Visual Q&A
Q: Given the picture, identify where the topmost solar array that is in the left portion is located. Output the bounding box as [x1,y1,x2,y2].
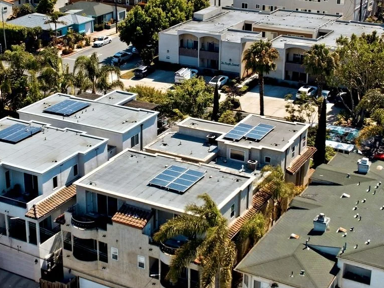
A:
[42,100,90,117]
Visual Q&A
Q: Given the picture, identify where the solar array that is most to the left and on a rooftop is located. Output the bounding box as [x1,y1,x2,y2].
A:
[0,123,41,146]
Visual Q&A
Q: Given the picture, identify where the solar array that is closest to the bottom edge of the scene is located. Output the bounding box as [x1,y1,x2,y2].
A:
[147,162,205,193]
